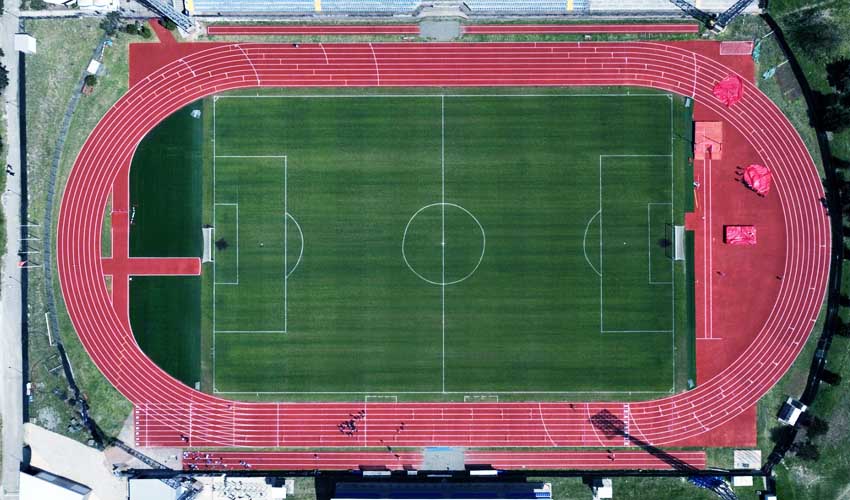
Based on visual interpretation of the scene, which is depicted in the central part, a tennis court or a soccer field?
soccer field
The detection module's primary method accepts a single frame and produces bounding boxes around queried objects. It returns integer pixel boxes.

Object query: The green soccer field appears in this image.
[203,86,687,403]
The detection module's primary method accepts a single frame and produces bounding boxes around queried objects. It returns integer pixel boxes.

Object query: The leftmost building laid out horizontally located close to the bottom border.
[11,467,92,500]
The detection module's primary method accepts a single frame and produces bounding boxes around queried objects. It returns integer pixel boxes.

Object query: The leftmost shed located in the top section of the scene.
[15,33,36,55]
